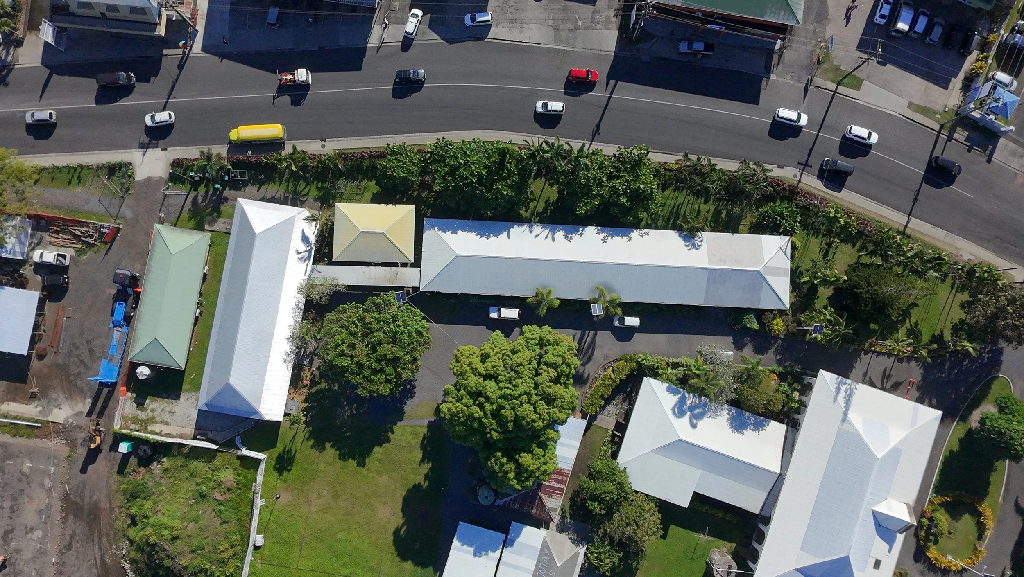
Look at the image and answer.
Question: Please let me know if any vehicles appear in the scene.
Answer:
Yes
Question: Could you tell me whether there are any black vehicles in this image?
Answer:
Yes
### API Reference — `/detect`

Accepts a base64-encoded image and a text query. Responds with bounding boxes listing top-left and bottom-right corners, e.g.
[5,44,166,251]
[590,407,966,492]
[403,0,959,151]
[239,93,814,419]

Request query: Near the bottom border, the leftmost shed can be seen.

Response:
[442,520,506,577]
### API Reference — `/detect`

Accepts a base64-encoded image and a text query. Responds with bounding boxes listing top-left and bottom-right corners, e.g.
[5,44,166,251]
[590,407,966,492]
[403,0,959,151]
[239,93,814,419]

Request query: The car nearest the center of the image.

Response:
[489,306,520,321]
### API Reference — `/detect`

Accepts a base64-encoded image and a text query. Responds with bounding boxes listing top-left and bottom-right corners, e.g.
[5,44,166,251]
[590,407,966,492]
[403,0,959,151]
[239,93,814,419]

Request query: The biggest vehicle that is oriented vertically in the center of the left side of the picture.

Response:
[83,268,136,382]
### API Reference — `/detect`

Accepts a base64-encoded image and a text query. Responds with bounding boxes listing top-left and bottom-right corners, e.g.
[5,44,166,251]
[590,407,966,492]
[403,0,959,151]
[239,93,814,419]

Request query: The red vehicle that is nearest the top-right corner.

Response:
[568,68,598,84]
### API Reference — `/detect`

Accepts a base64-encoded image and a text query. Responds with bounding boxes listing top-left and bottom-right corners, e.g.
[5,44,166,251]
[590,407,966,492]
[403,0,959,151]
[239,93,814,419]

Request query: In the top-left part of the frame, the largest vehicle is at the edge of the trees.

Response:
[229,124,291,146]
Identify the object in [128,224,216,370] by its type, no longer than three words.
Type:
building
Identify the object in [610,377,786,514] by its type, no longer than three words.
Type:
house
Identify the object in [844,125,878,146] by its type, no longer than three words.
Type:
car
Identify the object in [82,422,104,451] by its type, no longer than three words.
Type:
work vehicle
